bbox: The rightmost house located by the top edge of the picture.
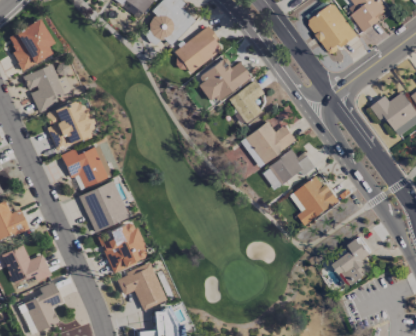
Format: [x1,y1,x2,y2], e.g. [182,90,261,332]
[351,0,386,32]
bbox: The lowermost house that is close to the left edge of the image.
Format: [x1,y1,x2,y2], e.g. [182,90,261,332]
[18,284,62,334]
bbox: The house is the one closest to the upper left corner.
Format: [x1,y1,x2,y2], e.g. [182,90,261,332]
[10,19,60,69]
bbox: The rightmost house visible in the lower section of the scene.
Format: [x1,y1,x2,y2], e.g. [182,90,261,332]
[332,237,376,287]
